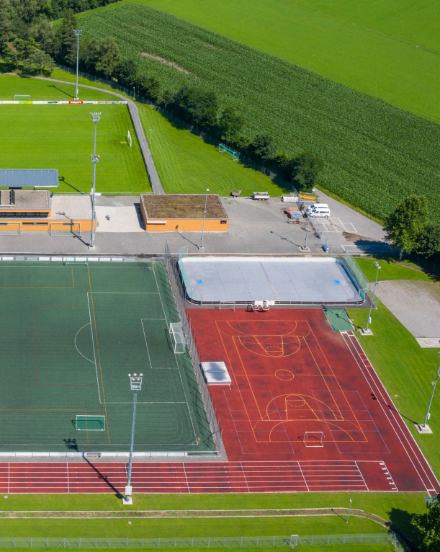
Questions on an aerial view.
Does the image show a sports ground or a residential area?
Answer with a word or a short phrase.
sports ground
